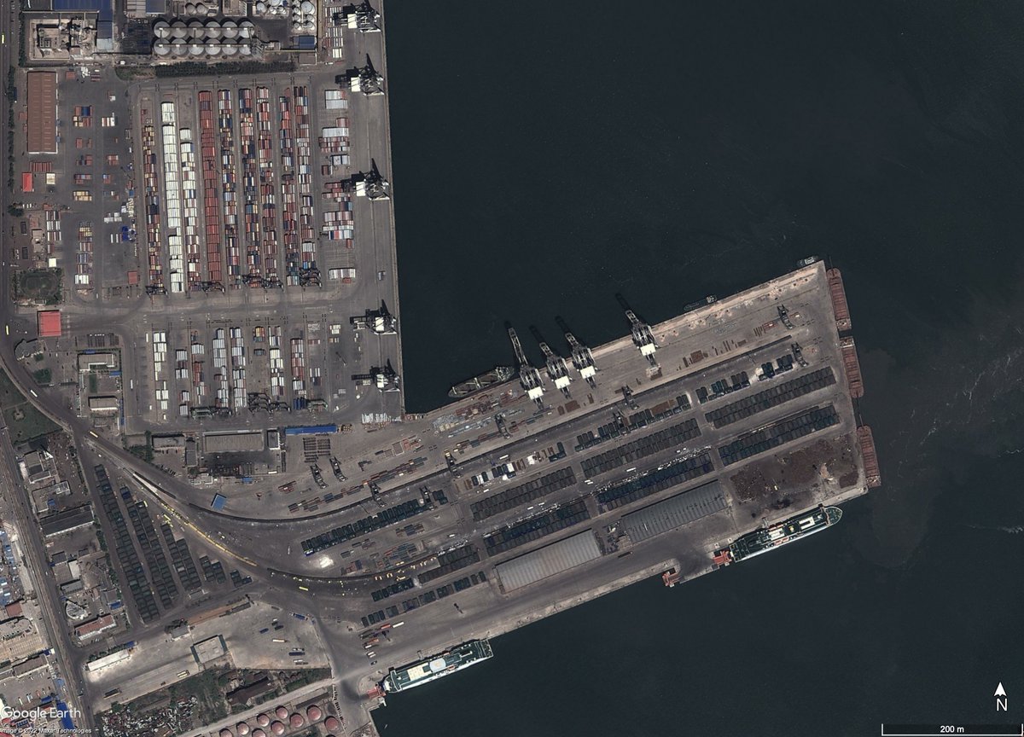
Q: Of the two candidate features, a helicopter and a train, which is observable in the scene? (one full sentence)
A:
It is a train that can be seen here.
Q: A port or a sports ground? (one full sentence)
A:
This image shows a port.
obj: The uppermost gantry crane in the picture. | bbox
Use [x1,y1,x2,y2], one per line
[334,3,382,35]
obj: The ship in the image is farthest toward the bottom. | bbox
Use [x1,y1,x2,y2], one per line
[382,640,494,690]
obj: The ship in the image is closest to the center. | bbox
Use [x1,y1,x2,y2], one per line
[449,367,515,397]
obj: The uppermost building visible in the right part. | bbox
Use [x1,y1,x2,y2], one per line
[622,481,728,545]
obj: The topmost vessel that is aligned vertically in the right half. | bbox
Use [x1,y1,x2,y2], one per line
[827,267,851,333]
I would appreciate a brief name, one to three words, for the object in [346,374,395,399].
container crane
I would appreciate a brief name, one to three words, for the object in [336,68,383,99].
container crane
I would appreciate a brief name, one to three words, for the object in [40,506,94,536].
shed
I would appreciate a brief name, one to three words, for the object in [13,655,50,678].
building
